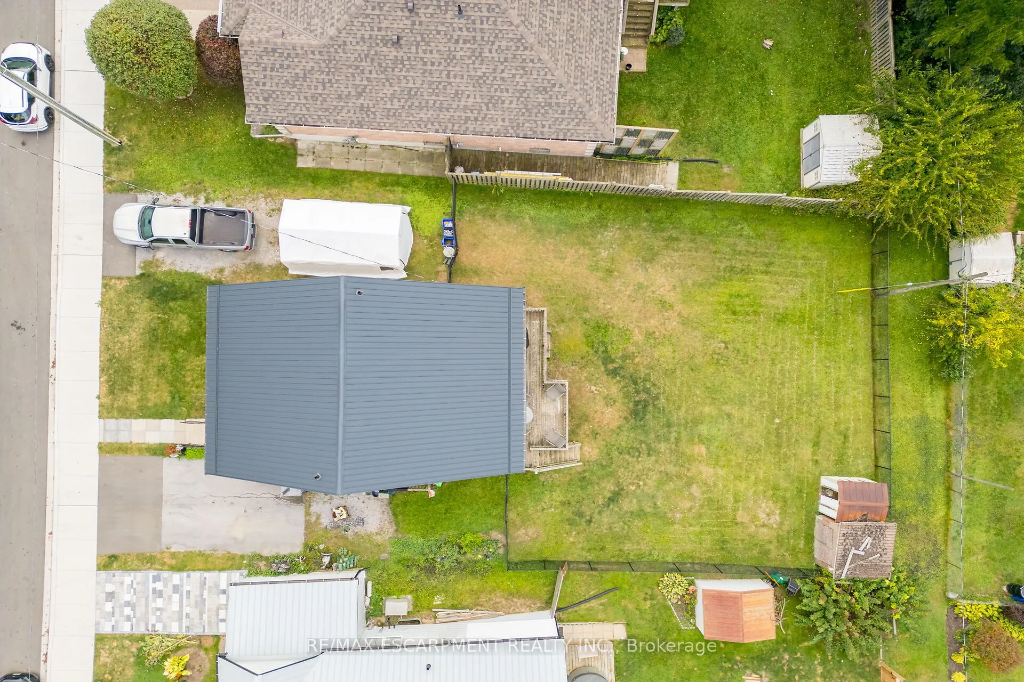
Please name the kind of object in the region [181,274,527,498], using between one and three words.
house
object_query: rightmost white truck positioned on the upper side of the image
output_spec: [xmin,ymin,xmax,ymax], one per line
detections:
[111,195,258,253]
